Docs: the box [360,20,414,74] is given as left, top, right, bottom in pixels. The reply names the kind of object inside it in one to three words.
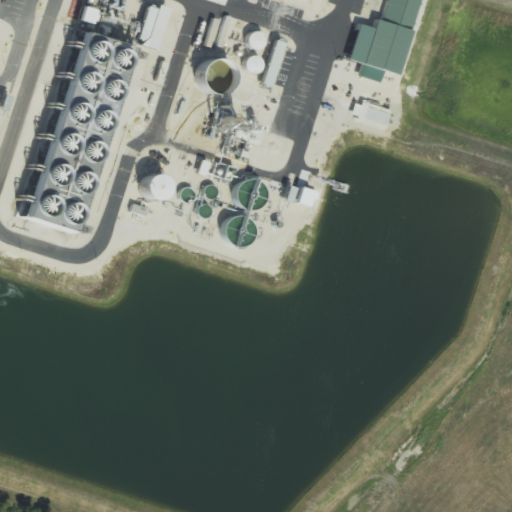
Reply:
building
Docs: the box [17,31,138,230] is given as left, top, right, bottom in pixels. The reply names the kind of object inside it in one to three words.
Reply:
cooling tower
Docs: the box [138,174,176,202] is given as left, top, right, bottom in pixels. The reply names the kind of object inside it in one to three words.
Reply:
storage tank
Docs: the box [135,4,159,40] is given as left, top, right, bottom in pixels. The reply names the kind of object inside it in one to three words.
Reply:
shed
